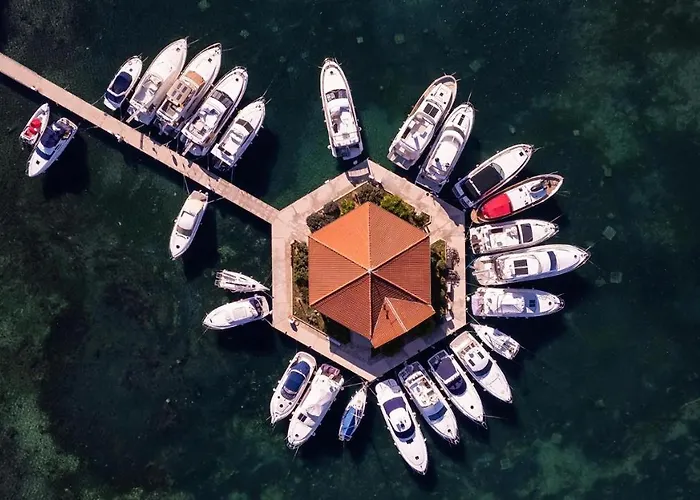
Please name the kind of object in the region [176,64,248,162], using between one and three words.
boat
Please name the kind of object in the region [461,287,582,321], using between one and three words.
boat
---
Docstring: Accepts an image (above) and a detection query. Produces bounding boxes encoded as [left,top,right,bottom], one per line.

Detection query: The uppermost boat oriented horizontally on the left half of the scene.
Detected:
[216,272,275,297]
